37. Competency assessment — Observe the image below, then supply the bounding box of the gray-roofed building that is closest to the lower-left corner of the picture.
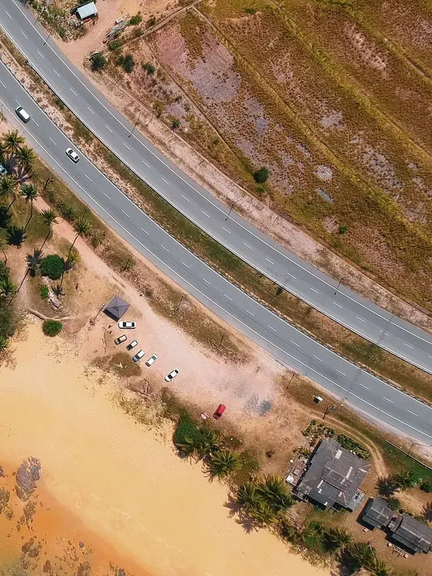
[105,295,130,319]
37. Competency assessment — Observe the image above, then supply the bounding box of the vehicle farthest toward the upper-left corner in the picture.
[15,104,30,123]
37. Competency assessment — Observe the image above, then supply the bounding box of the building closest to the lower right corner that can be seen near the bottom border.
[362,496,432,552]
